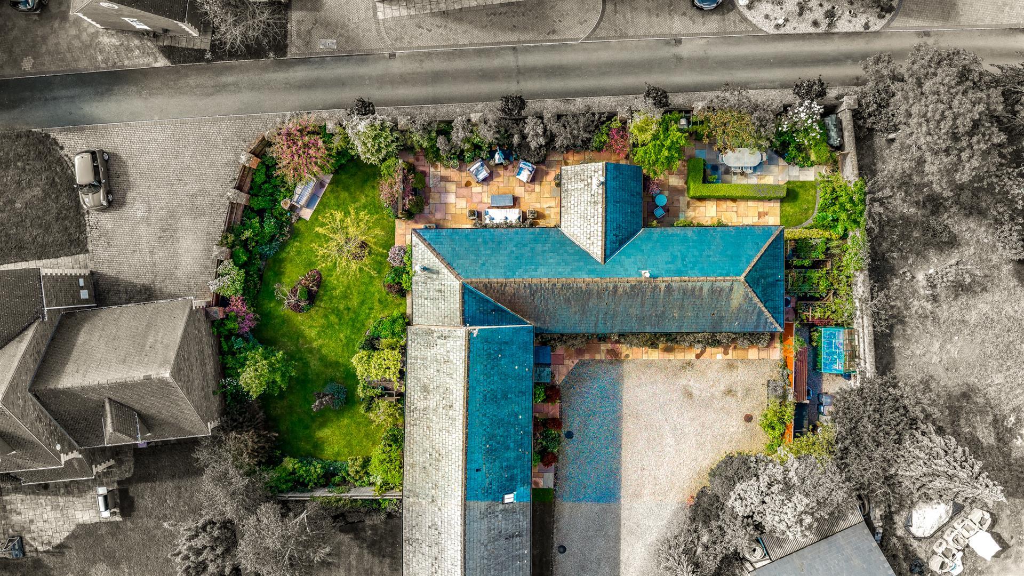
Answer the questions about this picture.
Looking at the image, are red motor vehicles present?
No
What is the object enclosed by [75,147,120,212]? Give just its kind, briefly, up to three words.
car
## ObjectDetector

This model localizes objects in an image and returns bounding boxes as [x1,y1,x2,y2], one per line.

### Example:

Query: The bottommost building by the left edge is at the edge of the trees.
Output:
[0,268,225,490]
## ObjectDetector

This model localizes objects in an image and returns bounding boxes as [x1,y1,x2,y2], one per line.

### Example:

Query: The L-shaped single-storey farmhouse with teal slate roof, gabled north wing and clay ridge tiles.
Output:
[411,161,786,334]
